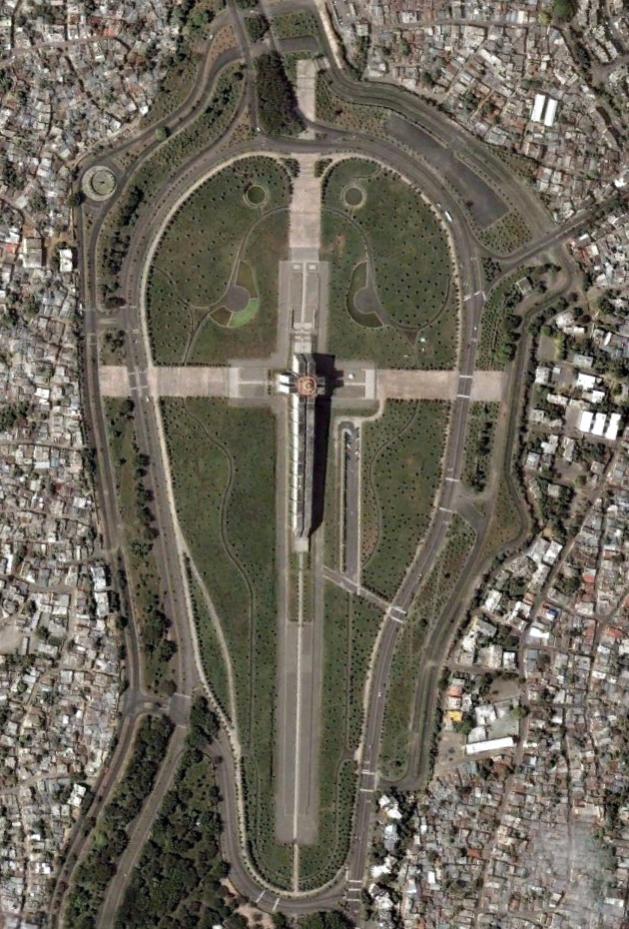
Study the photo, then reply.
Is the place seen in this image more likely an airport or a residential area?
residential area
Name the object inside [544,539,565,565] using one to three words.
building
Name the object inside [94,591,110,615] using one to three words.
house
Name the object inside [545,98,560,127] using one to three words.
shed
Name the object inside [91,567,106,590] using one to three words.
house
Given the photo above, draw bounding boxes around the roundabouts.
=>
[75,159,123,206]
